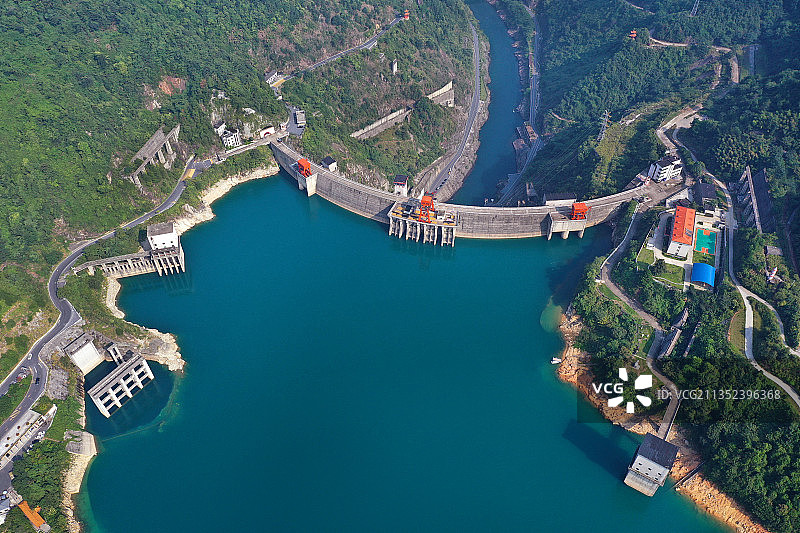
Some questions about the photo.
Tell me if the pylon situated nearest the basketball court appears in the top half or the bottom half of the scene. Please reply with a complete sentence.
It is in the top half that the pylon situated nearest the basketball court appears.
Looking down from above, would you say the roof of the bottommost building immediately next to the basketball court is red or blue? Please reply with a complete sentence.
The roof of the bottommost building immediately next to the basketball court is blue.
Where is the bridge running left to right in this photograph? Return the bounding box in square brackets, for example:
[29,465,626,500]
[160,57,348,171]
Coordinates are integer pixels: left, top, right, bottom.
[92,249,152,279]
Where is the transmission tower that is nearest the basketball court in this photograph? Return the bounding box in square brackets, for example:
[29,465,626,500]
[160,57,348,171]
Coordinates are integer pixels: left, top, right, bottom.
[597,114,617,152]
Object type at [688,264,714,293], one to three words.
building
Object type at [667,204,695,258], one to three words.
building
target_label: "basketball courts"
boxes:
[695,228,718,256]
